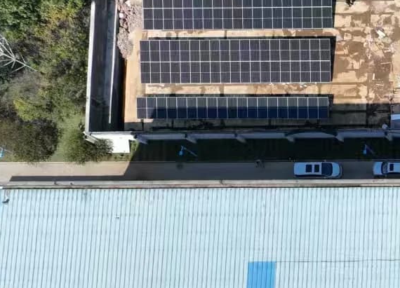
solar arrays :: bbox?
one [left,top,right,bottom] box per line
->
[143,0,332,29]
[139,39,330,83]
[137,97,329,119]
